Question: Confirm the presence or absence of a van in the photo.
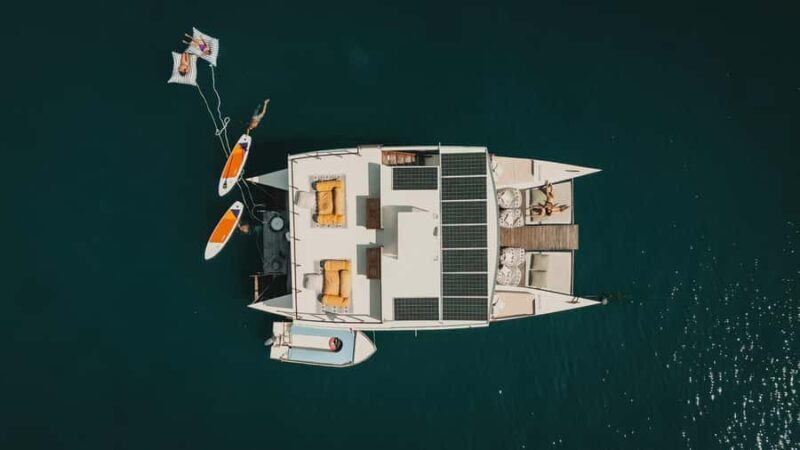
No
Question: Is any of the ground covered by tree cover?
No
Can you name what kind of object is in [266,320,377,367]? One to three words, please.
boat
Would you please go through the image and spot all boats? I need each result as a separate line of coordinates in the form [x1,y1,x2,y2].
[266,320,377,367]
[247,143,609,330]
